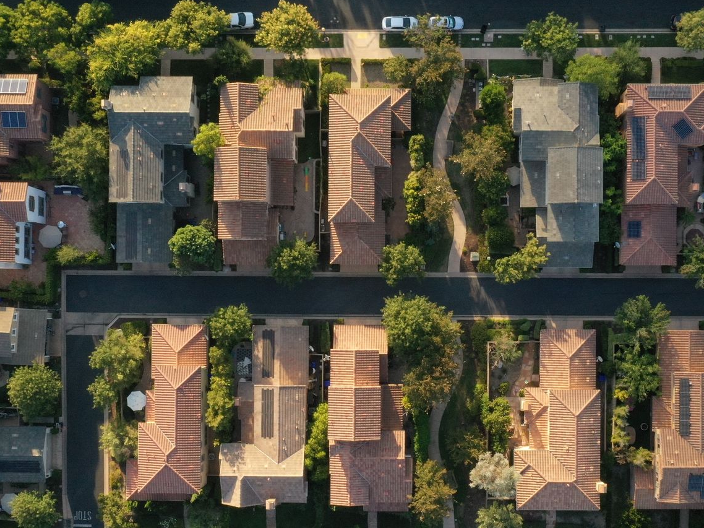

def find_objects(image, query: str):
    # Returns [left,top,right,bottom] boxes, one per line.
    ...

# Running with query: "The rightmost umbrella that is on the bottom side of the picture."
[128,390,145,410]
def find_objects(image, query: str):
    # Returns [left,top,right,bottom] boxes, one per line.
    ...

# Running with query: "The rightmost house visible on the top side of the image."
[605,82,704,267]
